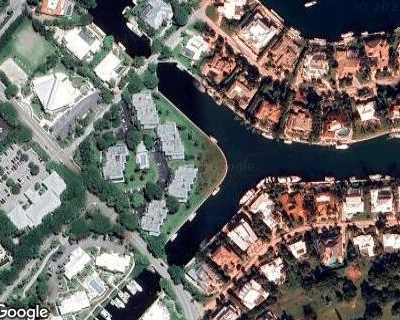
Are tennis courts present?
No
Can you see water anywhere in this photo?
Yes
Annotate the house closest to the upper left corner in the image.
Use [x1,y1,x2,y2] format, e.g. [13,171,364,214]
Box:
[42,0,70,23]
